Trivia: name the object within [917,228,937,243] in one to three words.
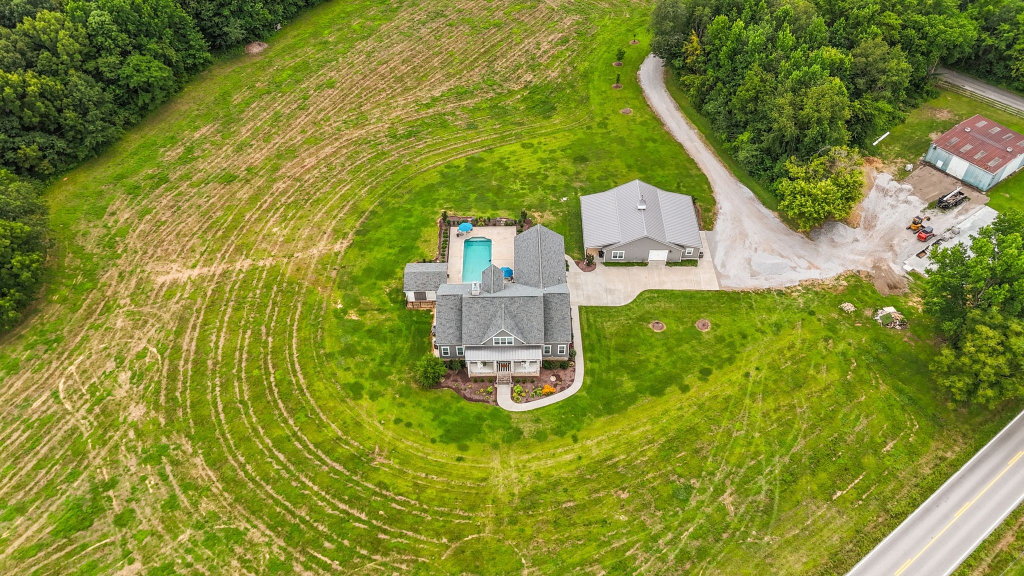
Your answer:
work vehicle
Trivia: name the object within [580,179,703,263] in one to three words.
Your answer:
barn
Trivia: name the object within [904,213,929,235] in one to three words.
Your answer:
work vehicle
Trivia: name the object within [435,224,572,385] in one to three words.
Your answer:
house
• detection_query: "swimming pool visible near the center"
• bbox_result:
[461,236,493,283]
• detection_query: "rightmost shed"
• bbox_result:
[925,113,1024,191]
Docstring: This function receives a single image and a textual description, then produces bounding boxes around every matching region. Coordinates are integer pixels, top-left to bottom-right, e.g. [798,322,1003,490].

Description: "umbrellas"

[459,224,472,238]
[502,268,514,283]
